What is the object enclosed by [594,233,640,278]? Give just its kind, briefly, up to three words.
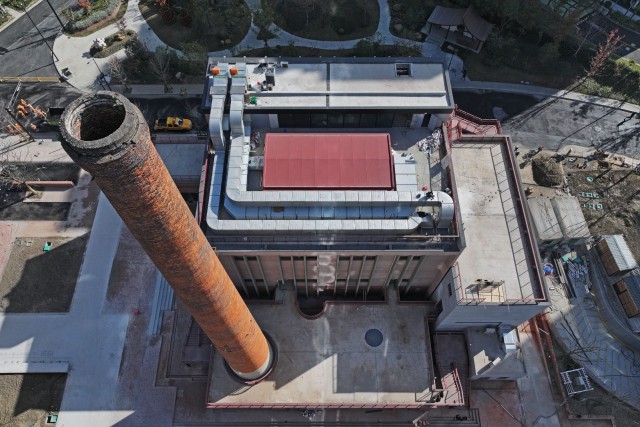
building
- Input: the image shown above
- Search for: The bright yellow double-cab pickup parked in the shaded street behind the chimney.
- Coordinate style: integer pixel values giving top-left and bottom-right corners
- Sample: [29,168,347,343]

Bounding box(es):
[152,116,192,133]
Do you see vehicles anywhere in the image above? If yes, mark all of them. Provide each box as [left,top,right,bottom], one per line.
[152,116,192,133]
[44,109,65,128]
